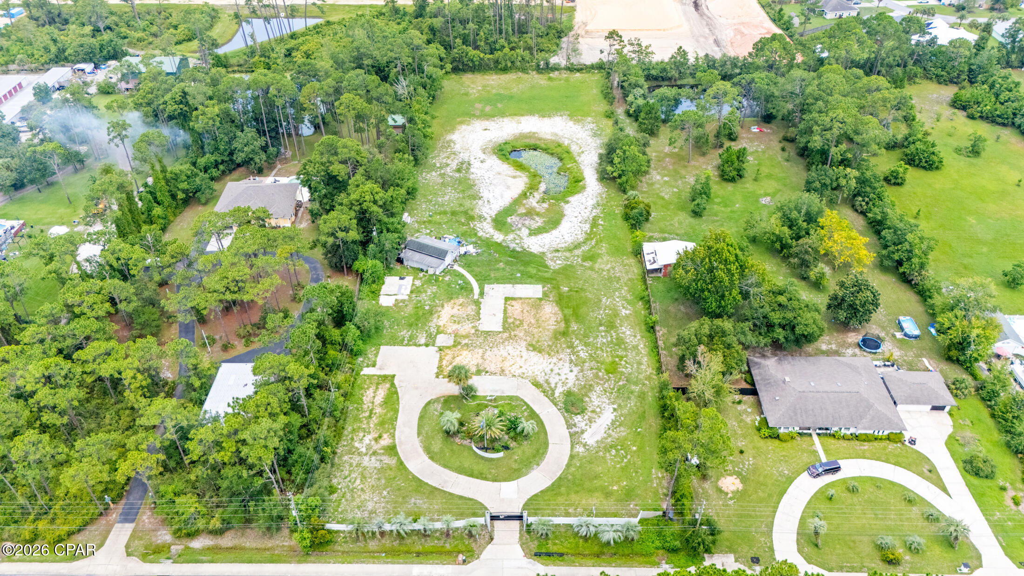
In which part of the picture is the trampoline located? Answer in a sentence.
The trampoline is located in the right region of the scene.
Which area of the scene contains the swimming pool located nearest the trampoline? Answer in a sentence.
The swimming pool located nearest the trampoline is in the right part of the image.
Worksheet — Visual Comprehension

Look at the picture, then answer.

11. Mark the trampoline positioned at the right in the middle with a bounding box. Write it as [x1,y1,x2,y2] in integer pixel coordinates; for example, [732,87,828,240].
[859,331,882,354]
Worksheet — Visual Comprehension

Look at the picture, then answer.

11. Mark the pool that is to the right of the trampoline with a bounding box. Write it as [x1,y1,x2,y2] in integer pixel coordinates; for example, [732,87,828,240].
[898,317,920,339]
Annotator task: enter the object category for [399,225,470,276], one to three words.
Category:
building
